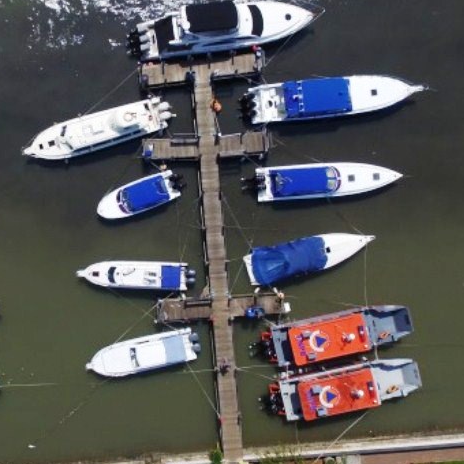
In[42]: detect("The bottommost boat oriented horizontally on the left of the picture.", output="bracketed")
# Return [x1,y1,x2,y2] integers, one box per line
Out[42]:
[81,327,204,375]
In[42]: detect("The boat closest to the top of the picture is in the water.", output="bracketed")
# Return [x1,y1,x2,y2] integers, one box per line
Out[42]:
[132,2,323,61]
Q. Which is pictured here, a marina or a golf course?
marina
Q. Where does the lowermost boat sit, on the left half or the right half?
right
